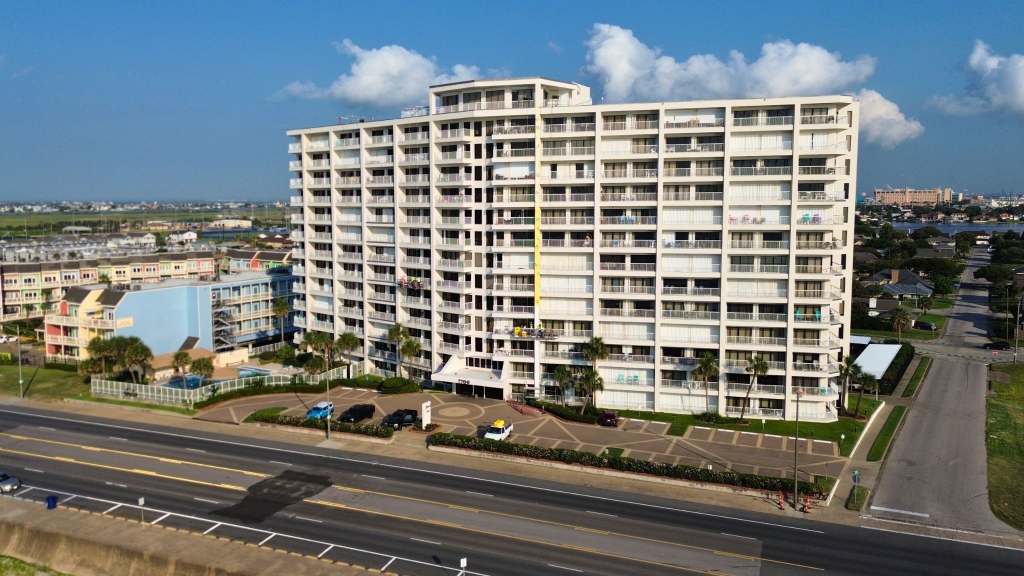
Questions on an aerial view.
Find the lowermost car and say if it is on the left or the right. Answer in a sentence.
The lowermost car appears in the left half of the scene.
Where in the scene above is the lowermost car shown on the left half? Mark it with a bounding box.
[0,469,23,491]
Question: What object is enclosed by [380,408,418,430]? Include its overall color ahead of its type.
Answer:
black truck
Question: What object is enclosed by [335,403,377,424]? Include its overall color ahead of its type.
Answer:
black truck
